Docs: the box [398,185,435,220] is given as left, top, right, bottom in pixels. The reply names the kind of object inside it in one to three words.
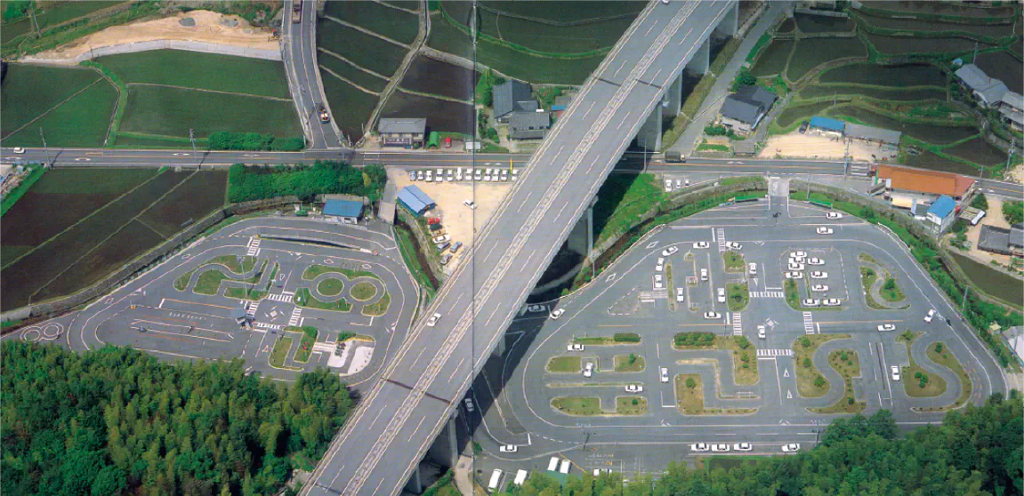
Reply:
shed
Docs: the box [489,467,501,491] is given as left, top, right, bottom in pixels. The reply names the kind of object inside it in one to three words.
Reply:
vehicle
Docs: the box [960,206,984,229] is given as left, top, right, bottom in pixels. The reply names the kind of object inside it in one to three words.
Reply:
shed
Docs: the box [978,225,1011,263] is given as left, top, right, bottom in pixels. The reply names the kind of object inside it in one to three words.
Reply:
house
